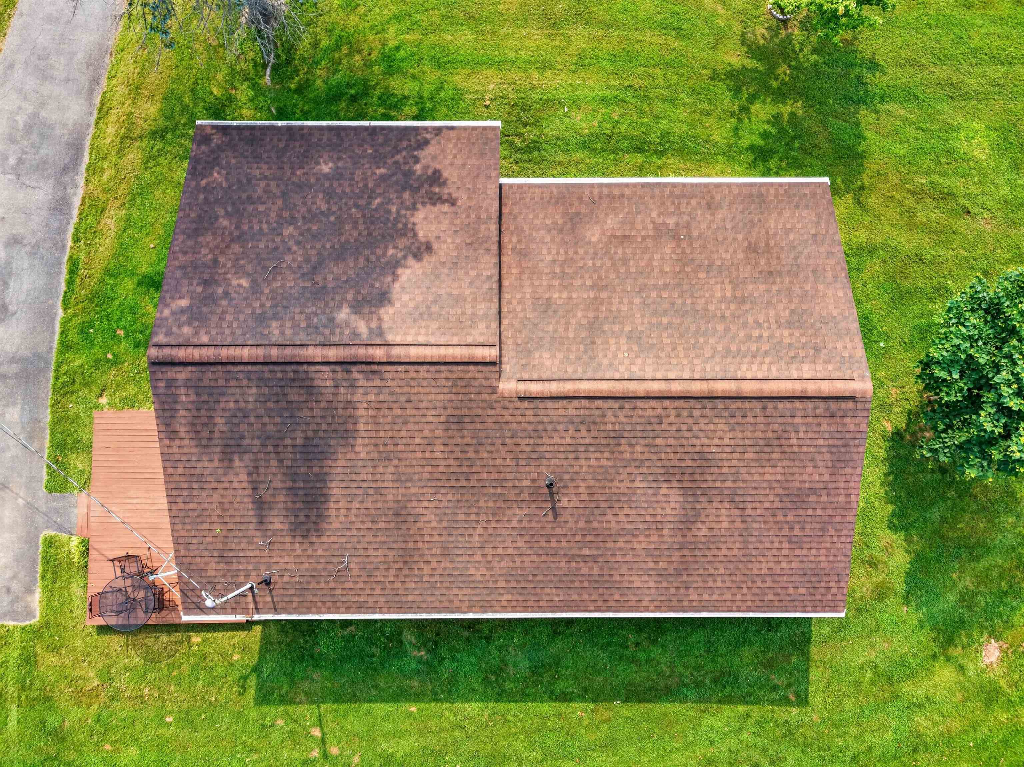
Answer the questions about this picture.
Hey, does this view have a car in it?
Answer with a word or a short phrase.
No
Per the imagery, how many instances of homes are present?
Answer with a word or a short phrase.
one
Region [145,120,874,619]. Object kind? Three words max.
house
